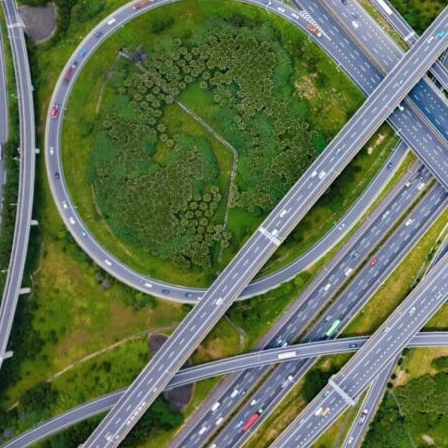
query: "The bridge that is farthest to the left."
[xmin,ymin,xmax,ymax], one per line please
[0,23,42,369]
